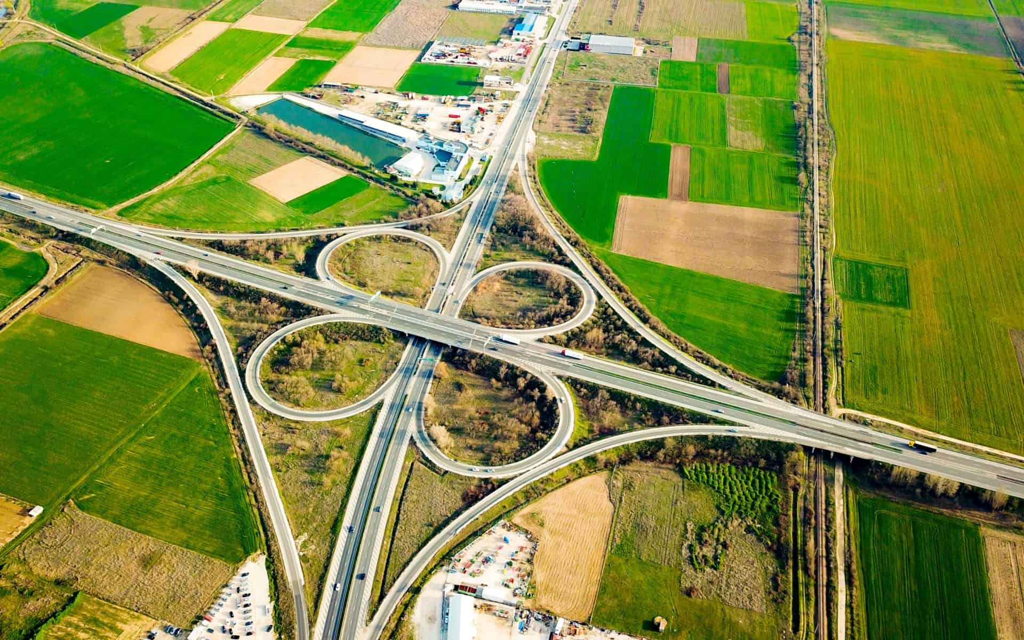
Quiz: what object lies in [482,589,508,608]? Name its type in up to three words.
shed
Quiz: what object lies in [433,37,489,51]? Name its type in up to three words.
greenhouse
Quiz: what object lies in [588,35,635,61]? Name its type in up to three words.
building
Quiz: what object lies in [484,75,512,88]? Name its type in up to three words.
building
